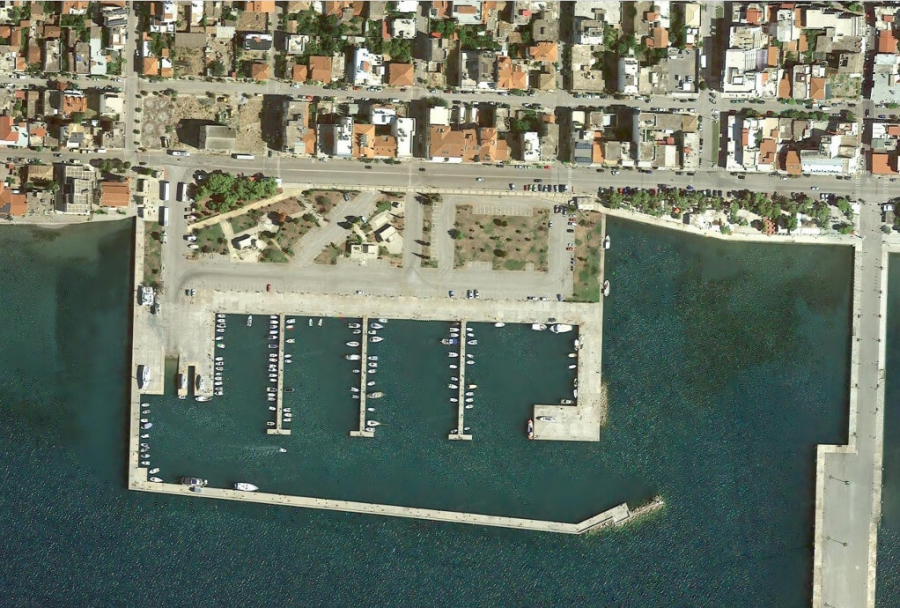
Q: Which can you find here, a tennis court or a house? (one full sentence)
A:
Visible in the photo is a house.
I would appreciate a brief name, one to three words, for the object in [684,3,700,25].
house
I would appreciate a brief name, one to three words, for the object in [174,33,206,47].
shed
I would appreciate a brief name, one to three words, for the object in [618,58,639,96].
building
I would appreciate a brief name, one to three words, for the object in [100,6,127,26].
building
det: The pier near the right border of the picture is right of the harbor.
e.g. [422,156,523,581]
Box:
[811,236,887,608]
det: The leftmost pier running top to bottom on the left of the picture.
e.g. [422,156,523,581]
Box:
[266,315,291,435]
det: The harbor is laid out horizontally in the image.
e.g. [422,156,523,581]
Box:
[127,285,610,489]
